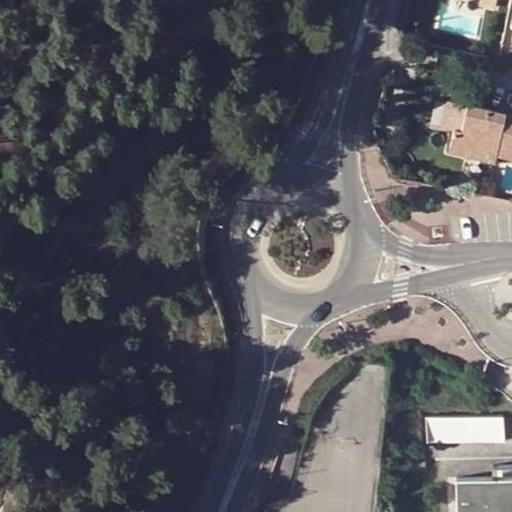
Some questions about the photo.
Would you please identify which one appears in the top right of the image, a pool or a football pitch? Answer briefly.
pool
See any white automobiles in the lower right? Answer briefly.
No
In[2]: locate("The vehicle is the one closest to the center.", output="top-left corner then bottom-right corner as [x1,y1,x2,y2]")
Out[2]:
[246,218,264,238]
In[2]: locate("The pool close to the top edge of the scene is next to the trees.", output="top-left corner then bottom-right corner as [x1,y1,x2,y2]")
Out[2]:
[438,13,484,40]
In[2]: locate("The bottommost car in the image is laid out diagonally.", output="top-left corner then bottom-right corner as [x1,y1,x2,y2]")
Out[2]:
[310,302,330,322]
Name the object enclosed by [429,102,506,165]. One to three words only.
house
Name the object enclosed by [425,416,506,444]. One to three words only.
building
